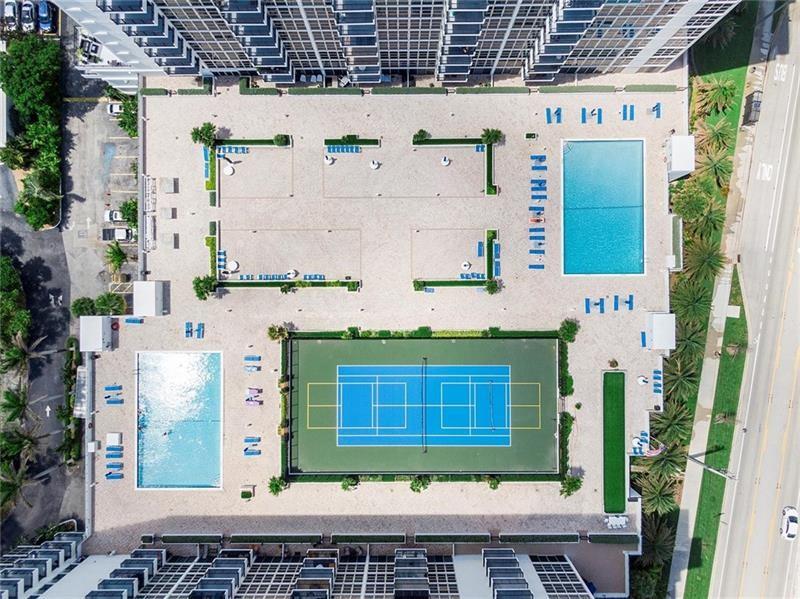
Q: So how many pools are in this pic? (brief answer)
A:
2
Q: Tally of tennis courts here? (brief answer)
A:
1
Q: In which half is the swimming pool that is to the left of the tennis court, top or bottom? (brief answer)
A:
bottom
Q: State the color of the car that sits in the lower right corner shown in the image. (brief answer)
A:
white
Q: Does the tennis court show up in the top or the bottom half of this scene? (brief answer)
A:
bottom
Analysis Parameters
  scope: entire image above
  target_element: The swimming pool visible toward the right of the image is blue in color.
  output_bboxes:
[563,140,648,274]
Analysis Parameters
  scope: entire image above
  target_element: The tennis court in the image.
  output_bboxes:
[289,340,559,473]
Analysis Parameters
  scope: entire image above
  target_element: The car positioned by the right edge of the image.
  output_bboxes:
[778,505,800,541]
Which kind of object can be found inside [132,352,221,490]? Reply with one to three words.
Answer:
swimming pool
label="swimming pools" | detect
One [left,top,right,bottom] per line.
[132,352,221,490]
[563,140,648,274]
